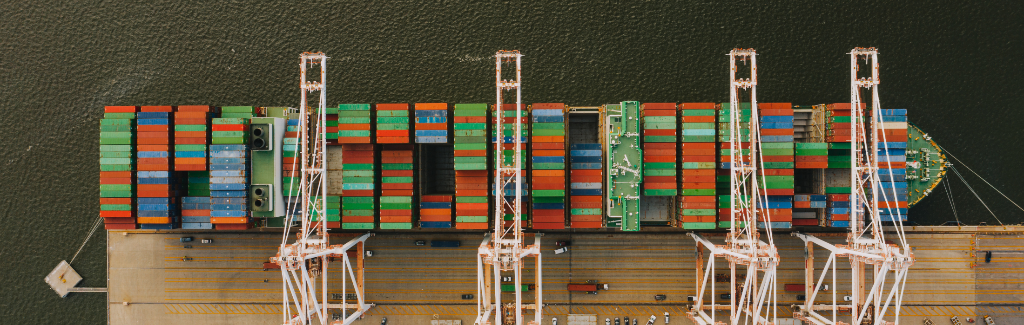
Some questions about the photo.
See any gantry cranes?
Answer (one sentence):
Yes, there's a gantry crane here.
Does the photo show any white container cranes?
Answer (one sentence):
Yes, the photo shows a white container crane.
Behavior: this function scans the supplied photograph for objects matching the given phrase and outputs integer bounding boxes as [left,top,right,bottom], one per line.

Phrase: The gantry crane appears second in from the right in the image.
[685,48,783,325]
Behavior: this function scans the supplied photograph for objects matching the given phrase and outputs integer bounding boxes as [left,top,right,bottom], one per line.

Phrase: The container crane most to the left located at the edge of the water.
[273,51,374,325]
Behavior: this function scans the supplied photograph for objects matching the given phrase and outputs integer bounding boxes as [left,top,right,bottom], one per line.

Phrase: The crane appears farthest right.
[789,47,915,325]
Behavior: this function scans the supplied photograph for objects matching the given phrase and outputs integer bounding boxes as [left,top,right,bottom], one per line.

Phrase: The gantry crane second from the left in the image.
[474,50,545,325]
